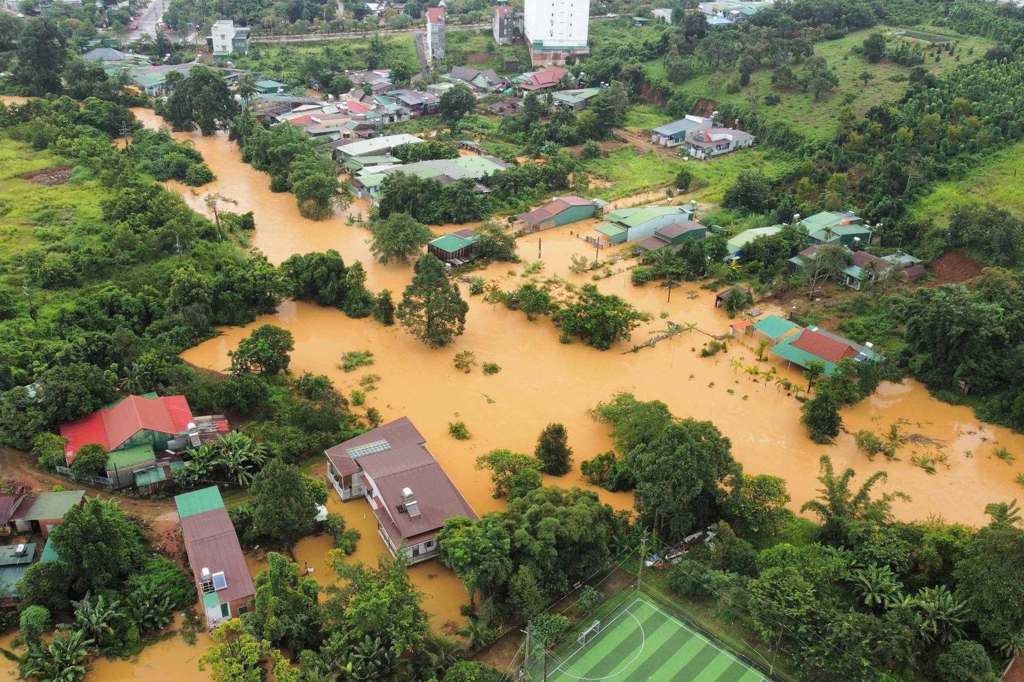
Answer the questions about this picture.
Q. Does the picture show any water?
Yes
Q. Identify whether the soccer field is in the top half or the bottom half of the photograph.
bottom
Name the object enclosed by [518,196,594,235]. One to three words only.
barn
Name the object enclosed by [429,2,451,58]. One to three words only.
house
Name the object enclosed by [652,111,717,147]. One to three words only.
house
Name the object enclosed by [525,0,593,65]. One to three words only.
building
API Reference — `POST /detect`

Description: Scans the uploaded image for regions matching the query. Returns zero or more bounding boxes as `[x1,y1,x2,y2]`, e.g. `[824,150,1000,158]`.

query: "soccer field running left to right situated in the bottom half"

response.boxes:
[524,586,788,682]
